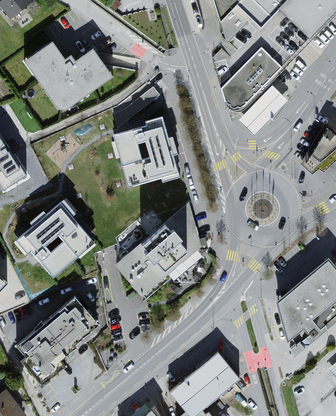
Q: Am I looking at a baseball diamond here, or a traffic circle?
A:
traffic circle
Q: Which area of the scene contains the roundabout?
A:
right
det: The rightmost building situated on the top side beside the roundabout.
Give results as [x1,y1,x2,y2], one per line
[302,128,336,174]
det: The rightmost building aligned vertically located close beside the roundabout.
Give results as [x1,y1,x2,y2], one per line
[166,202,202,274]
